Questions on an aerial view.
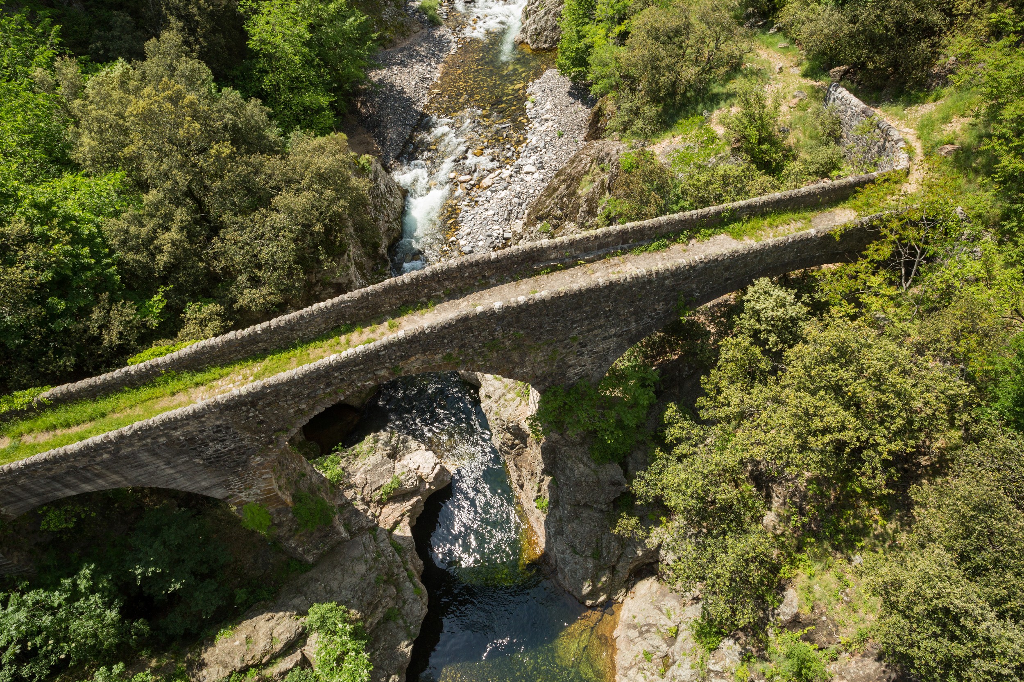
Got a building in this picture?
No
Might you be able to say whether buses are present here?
No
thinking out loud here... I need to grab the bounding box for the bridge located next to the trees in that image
[0,169,941,568]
